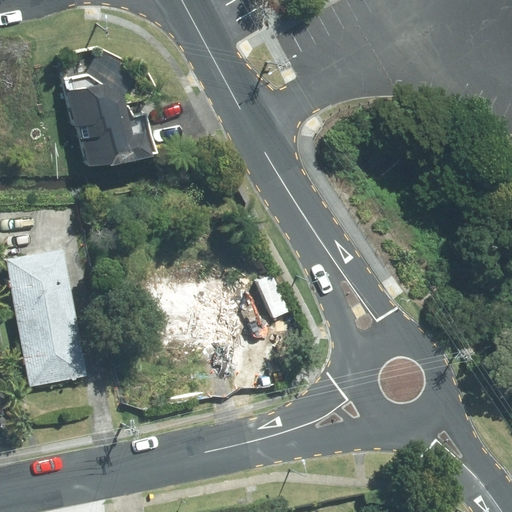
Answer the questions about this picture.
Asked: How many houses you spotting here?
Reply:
2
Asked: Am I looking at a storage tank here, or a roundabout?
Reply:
roundabout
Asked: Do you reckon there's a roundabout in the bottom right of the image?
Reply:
Yes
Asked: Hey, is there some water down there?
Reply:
No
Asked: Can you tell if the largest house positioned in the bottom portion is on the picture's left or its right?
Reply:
left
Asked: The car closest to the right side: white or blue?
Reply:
white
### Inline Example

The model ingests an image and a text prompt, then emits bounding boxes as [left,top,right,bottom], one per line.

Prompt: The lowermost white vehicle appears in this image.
[132,436,159,452]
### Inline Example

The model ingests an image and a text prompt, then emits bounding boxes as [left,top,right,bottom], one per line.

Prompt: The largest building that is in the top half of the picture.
[60,56,158,166]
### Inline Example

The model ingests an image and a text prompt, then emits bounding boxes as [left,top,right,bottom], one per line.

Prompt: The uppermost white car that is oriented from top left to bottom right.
[308,264,334,295]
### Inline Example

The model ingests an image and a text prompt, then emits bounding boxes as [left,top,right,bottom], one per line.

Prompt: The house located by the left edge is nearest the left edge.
[4,248,88,388]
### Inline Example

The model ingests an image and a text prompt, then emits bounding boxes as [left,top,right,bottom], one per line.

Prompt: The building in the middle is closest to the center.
[253,274,288,319]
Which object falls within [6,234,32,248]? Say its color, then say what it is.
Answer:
white vehicle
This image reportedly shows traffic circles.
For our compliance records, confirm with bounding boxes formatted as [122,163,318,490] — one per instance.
[378,356,426,404]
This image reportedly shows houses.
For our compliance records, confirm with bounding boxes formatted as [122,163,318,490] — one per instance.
[4,248,88,388]
[60,56,158,166]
